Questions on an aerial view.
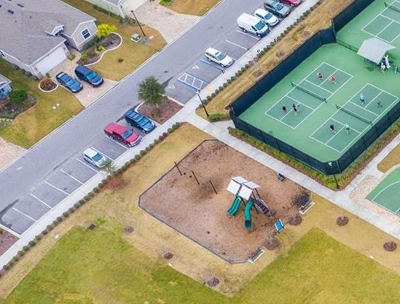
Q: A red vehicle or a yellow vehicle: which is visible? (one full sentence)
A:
It is a red vehicle that can be seen here.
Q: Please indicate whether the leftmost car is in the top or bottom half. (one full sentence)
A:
Seen from above, the leftmost car lies in the top half of the view.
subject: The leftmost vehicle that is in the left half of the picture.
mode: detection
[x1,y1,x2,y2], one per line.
[54,70,81,92]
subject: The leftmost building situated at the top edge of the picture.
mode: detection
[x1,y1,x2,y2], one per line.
[0,0,102,77]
